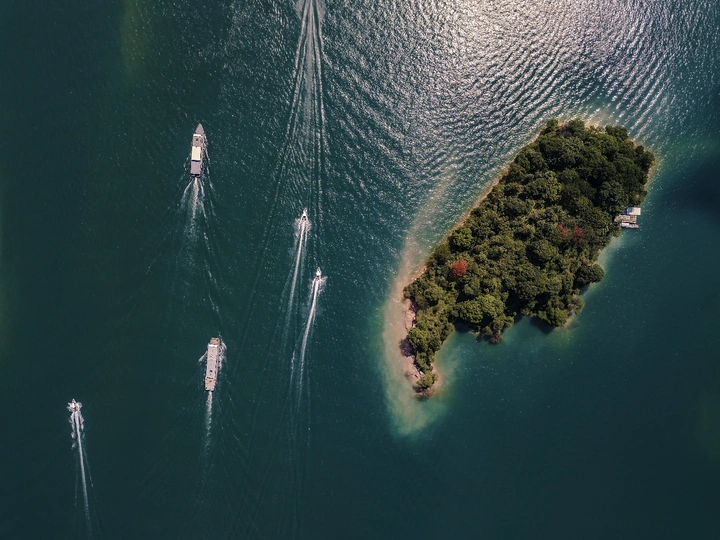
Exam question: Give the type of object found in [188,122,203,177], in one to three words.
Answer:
ship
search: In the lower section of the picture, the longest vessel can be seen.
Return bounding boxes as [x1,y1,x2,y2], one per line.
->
[204,338,219,392]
